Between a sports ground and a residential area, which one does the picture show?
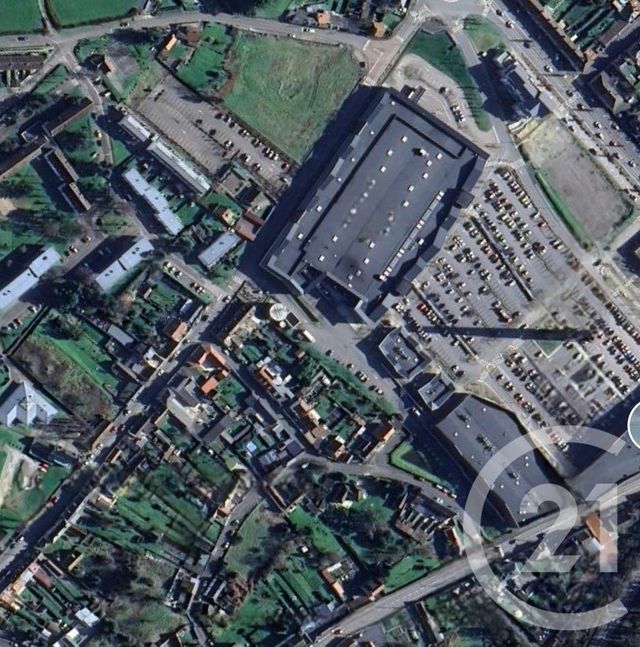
residential area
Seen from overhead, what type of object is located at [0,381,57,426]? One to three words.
house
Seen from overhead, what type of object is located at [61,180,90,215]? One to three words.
building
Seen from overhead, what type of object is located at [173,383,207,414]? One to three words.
building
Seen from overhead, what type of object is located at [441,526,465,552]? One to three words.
house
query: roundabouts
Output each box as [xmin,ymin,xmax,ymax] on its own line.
[423,0,479,23]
